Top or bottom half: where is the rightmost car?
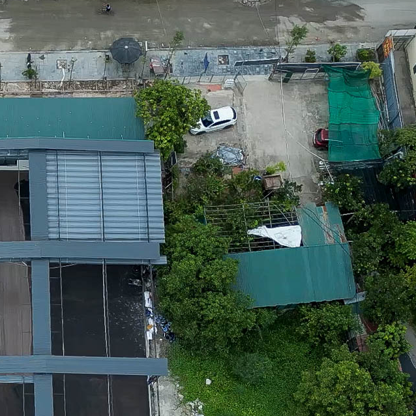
top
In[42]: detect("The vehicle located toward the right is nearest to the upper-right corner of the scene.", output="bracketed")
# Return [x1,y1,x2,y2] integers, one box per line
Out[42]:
[308,126,328,151]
